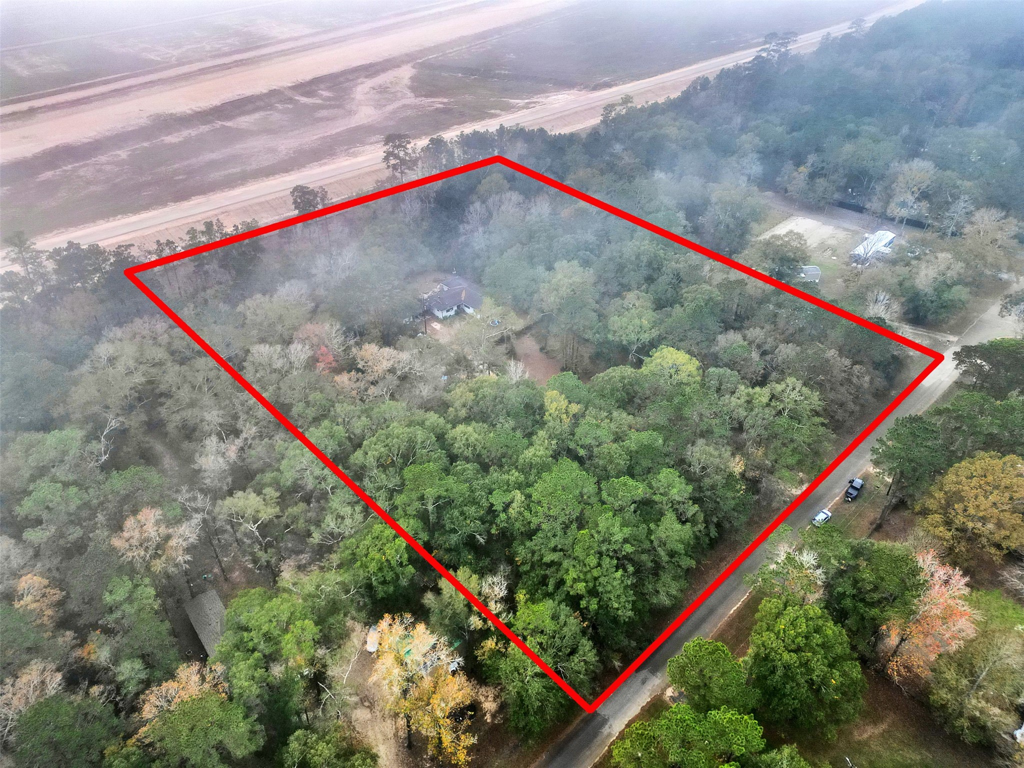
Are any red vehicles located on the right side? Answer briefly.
No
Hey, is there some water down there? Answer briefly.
No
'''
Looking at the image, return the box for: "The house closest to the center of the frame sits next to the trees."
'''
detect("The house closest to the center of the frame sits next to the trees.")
[424,275,508,320]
